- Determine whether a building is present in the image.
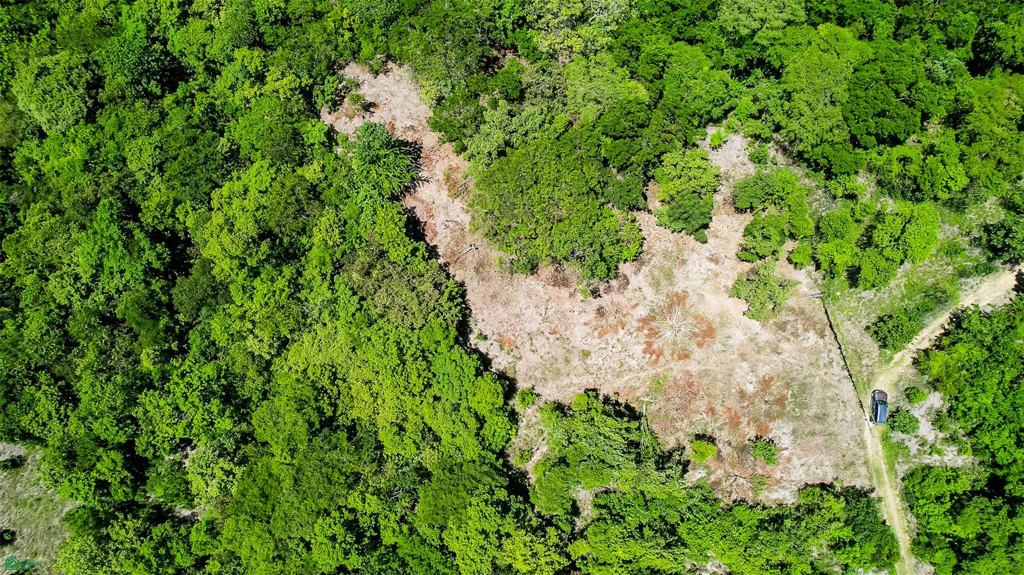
No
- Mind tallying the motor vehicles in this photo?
1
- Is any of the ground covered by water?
No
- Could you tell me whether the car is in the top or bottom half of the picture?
bottom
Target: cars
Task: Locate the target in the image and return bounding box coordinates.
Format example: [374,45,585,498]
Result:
[869,390,890,425]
